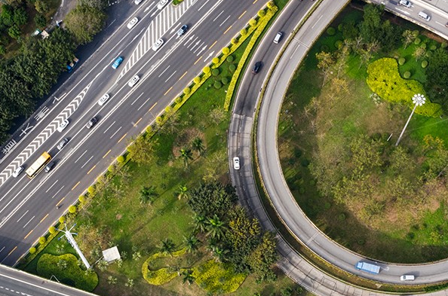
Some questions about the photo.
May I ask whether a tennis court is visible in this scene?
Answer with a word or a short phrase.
No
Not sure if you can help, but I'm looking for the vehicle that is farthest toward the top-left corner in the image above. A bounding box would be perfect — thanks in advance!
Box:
[63,56,79,72]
